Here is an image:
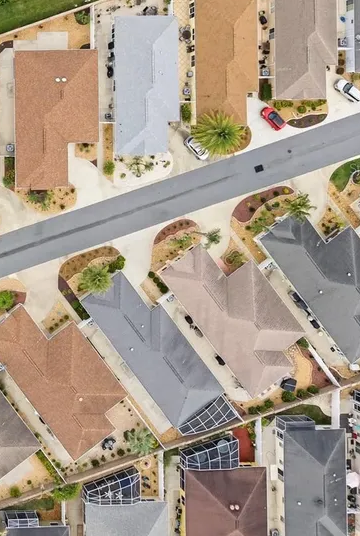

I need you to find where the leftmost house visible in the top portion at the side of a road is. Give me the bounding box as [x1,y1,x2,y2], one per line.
[14,49,99,188]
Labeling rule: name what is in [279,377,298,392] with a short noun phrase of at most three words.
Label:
umbrella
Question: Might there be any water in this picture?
No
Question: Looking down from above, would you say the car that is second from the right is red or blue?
red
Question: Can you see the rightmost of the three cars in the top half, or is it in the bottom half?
top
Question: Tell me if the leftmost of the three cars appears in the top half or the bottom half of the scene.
top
